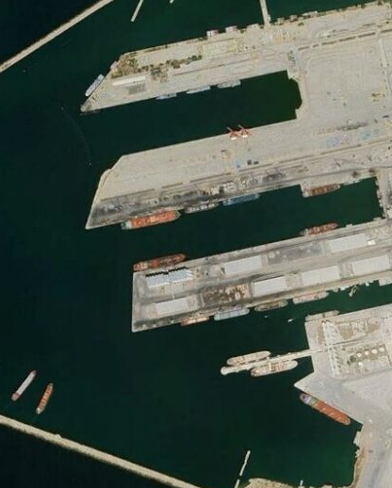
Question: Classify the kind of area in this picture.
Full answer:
This image shows a port.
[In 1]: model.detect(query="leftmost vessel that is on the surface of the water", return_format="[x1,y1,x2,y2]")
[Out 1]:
[11,371,36,401]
